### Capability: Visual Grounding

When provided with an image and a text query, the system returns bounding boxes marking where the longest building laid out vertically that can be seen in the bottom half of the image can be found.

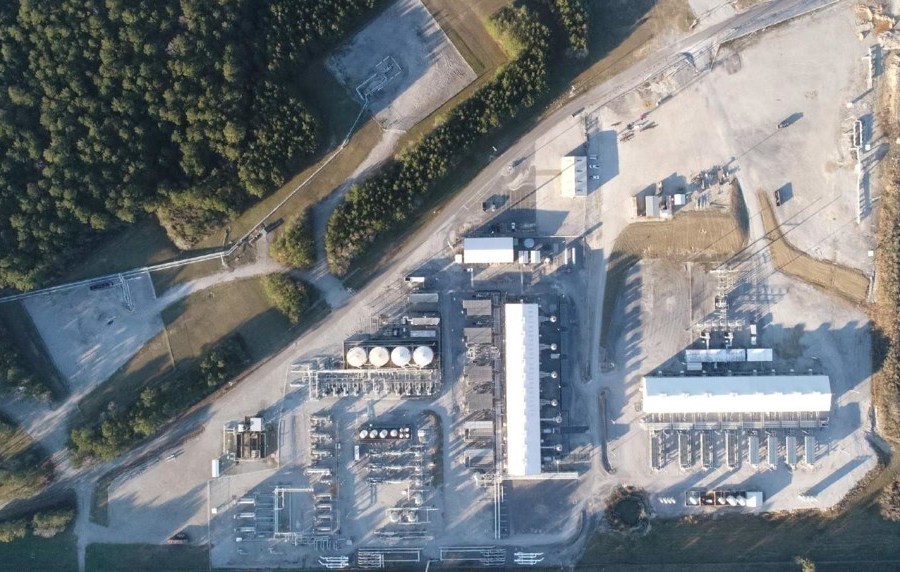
[504,303,542,476]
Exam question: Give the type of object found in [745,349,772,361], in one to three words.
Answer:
building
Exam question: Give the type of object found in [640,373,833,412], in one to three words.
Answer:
building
